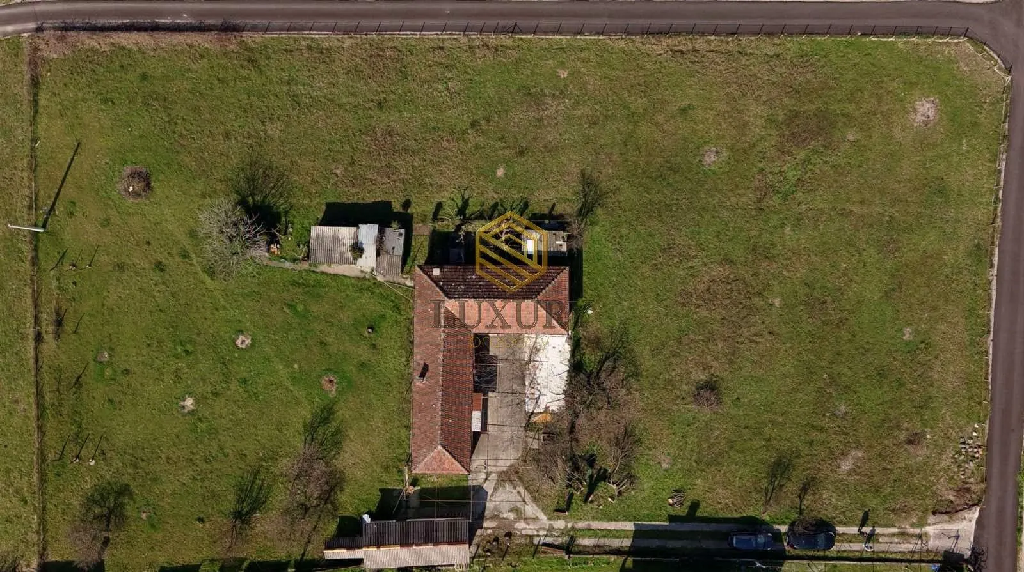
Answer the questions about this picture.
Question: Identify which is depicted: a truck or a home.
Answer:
home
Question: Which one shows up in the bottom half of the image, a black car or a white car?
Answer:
black car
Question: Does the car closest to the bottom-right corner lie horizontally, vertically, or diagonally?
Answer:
horizontally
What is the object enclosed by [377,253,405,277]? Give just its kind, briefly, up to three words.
shed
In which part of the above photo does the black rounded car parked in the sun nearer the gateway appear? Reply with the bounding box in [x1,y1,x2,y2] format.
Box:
[784,529,834,553]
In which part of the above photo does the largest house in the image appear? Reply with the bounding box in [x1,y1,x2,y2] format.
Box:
[409,264,570,475]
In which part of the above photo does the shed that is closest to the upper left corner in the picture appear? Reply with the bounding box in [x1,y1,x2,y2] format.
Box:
[310,226,359,265]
